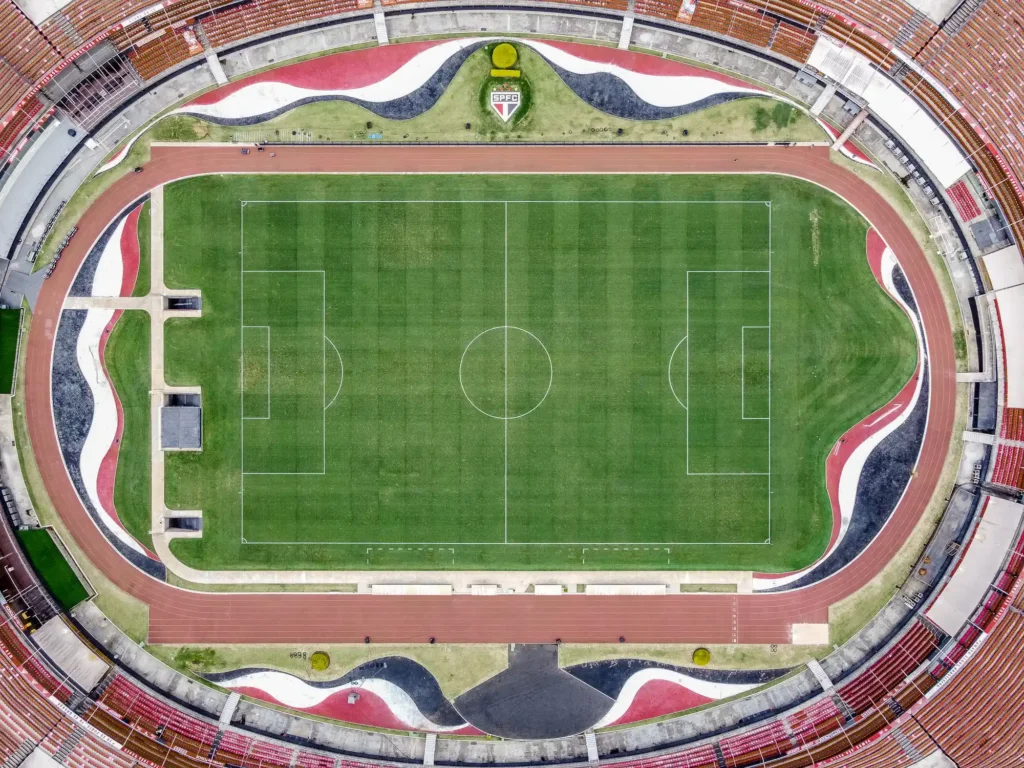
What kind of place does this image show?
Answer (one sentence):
It's a sports ground.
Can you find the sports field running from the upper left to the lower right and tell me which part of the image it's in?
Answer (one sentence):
The sports field running from the upper left to the lower right is located in the bottom left region of the scene.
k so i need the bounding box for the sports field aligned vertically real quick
[0,307,21,397]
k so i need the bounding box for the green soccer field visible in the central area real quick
[64,175,919,592]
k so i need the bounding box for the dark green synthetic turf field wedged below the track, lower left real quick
[18,526,93,610]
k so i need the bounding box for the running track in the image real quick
[25,143,956,644]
